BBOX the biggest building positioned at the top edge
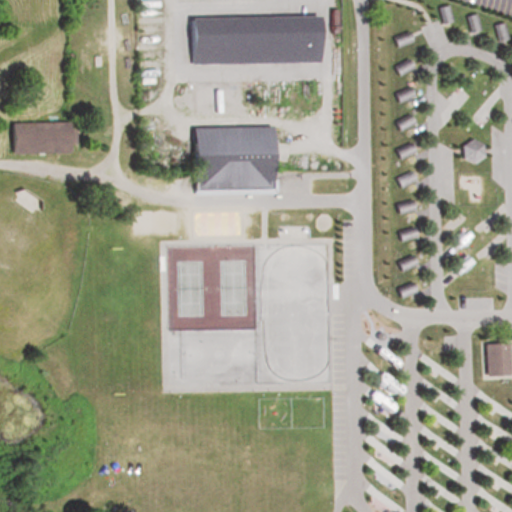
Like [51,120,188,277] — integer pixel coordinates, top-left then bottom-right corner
[194,17,326,64]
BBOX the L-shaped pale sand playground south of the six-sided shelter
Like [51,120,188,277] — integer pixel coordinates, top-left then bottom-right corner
[460,176,482,203]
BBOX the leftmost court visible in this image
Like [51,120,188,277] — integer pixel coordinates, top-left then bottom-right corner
[169,248,212,329]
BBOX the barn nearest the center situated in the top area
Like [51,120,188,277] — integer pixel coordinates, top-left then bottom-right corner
[196,126,277,190]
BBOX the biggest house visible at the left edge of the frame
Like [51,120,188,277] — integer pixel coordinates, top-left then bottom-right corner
[13,123,78,158]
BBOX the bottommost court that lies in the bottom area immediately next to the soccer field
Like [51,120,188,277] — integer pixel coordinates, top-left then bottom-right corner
[170,331,256,386]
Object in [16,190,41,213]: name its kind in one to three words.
shed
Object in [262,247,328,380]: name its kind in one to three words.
sports court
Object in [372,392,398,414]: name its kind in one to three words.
vehicle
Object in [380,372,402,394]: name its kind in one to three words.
vehicle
